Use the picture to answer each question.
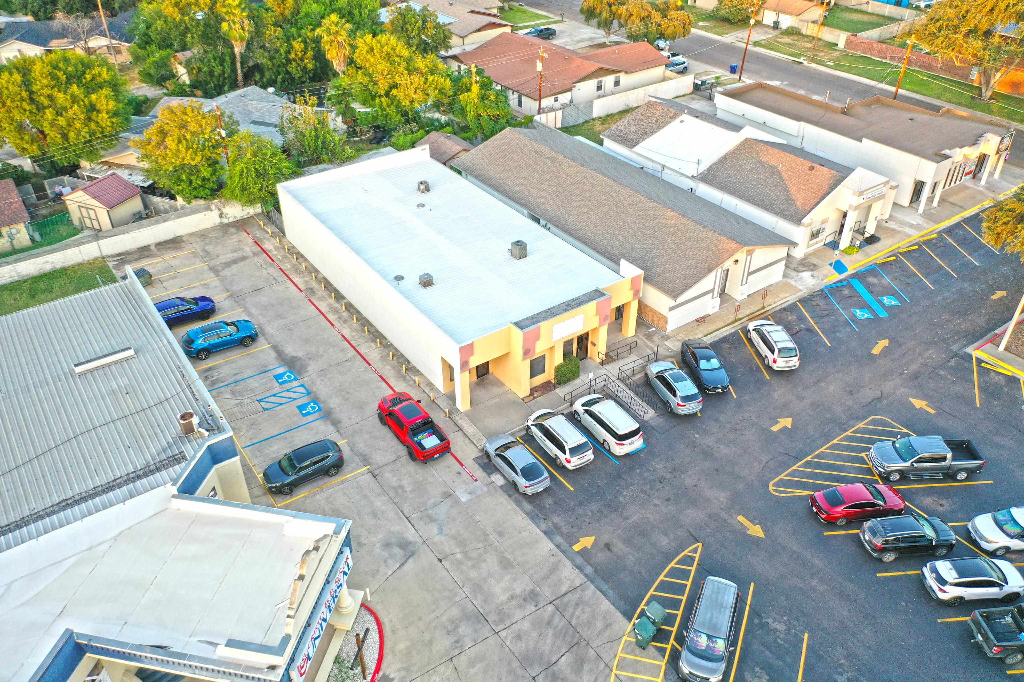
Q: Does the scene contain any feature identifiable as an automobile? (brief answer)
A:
Yes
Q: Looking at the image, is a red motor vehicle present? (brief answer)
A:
Yes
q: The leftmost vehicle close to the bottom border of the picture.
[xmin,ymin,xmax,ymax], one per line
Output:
[671,575,738,682]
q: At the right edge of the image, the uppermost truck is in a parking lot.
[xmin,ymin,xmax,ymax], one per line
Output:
[864,435,993,483]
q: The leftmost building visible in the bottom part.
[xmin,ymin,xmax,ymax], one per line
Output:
[0,265,368,682]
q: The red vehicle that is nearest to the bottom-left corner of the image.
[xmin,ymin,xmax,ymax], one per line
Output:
[373,389,455,466]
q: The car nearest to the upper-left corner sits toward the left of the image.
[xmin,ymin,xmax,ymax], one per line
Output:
[155,287,234,326]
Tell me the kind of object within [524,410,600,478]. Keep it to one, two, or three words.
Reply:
car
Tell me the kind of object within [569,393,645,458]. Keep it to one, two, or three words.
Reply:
car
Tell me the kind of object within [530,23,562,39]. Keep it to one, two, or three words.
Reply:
vehicle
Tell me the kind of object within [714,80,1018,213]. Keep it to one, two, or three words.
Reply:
building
